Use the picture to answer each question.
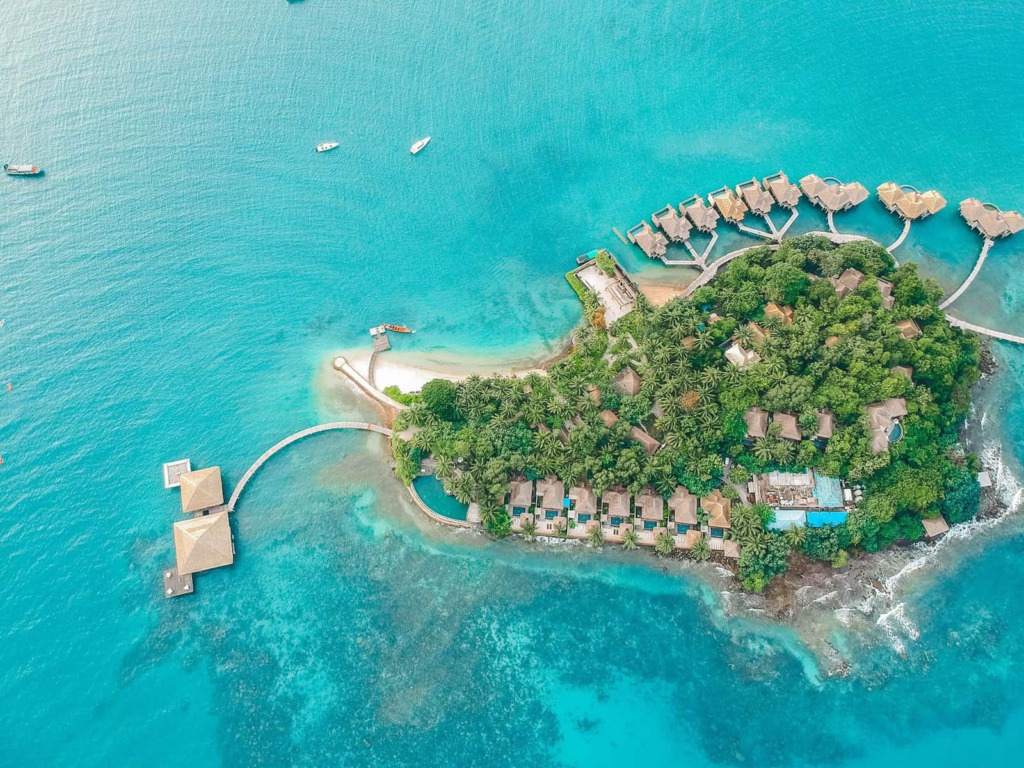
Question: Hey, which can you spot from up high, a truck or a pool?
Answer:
pool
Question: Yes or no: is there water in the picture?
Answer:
Yes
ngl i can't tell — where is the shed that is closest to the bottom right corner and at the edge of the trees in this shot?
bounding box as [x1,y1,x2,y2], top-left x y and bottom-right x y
[920,514,950,538]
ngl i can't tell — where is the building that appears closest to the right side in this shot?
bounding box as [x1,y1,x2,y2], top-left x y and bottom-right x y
[952,200,1024,243]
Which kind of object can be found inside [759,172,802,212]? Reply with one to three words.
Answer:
house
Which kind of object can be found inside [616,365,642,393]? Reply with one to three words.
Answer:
building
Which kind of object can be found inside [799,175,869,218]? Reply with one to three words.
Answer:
house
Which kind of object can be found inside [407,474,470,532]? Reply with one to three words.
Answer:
swimming pool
